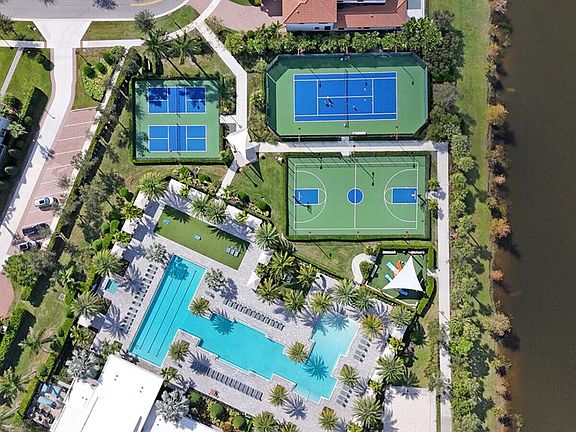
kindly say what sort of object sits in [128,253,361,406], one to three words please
swimming pool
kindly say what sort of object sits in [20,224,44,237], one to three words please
vehicle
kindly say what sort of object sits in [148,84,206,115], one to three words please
sports court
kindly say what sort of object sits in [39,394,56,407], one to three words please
umbrella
